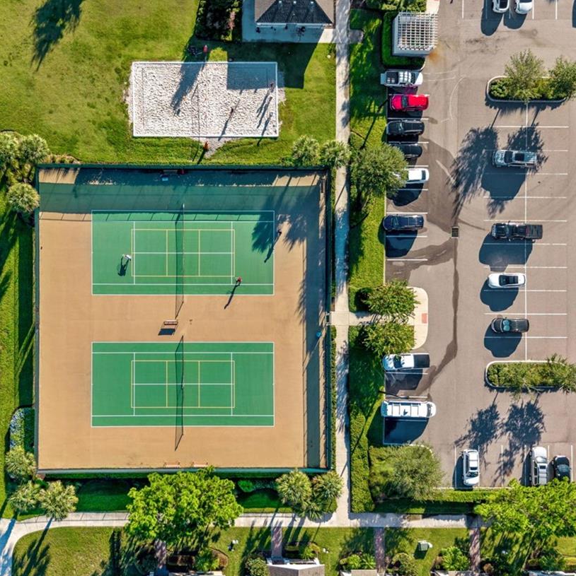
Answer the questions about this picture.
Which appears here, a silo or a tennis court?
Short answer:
tennis court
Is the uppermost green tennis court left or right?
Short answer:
left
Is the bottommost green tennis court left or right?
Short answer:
left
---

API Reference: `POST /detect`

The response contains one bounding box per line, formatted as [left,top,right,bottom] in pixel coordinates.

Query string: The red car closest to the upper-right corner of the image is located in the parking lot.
[390,93,428,112]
